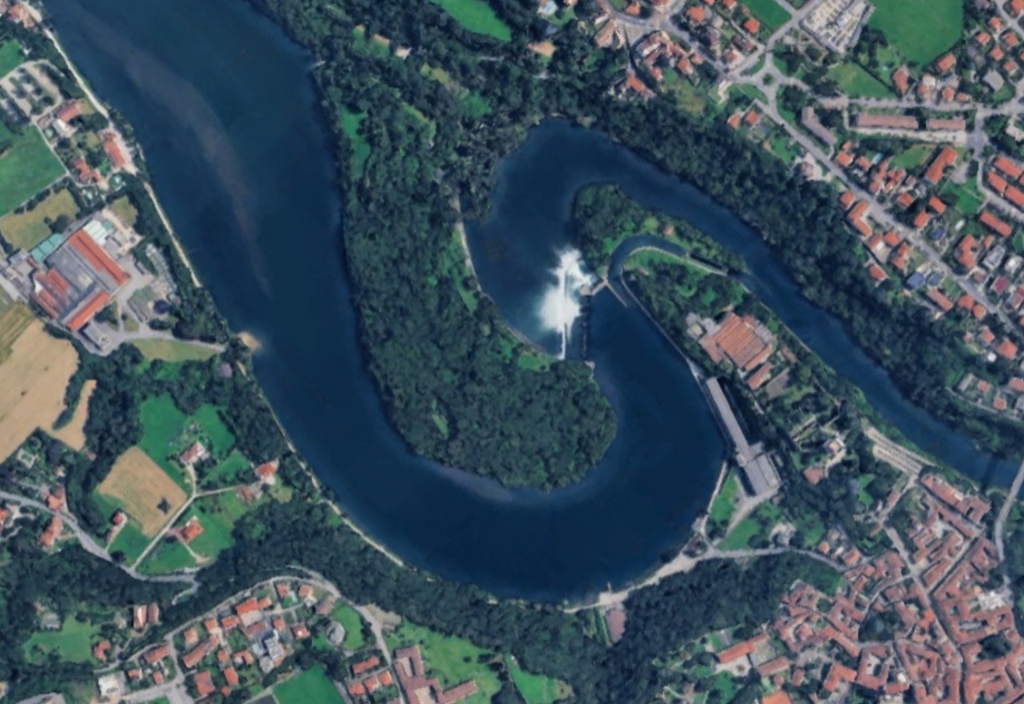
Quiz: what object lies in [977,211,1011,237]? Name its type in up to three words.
building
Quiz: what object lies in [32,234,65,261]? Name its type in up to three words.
shed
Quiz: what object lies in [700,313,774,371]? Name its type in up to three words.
building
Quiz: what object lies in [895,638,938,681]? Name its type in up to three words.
house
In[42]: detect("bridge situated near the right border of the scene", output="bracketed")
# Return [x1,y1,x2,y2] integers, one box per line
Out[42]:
[997,453,1024,531]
